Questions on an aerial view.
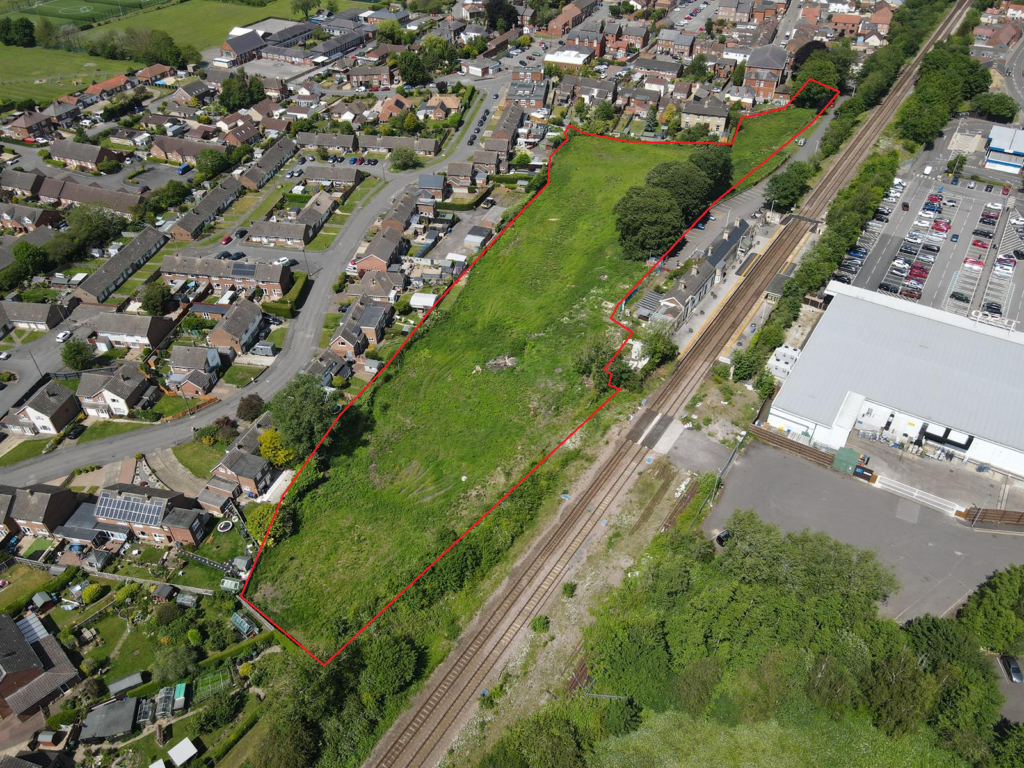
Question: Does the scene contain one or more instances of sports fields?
Yes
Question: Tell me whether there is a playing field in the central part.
No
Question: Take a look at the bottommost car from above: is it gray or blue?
gray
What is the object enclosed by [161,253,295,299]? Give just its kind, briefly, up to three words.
house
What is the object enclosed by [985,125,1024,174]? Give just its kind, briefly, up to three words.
gas station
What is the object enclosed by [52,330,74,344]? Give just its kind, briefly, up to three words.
car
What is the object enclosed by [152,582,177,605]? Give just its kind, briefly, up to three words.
shed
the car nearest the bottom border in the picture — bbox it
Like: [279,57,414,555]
[993,653,1024,686]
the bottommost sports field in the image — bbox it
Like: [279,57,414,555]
[0,46,153,122]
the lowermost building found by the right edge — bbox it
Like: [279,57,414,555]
[764,279,1024,488]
